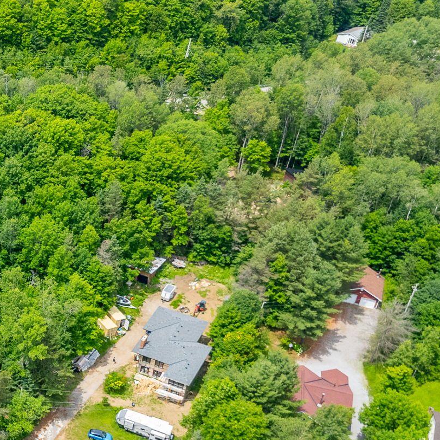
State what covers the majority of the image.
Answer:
trees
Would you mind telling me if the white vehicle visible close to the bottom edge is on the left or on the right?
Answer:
left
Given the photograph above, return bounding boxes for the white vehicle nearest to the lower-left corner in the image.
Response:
[119,410,181,440]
